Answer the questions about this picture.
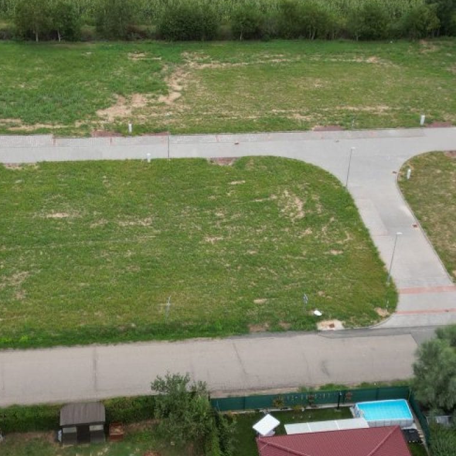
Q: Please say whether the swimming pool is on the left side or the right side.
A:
right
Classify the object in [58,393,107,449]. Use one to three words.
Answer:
shed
